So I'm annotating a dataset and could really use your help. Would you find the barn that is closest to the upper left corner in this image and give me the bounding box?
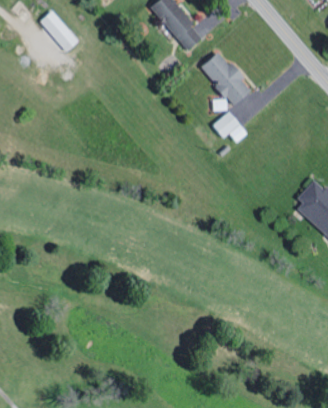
[38,10,78,51]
